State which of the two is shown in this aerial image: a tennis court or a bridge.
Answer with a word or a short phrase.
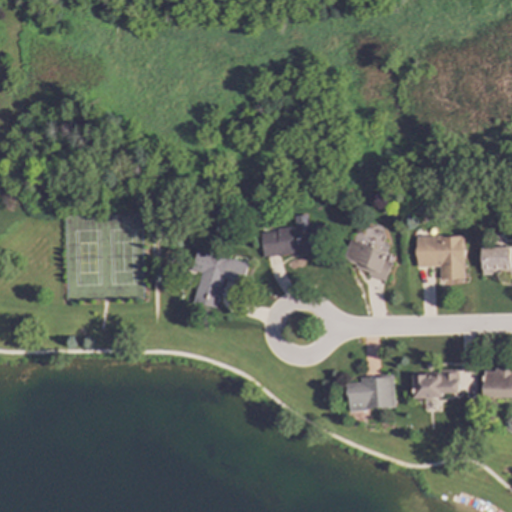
tennis court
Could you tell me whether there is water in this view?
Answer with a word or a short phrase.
Yes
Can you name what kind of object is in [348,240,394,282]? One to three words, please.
house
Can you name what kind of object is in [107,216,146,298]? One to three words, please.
tennis court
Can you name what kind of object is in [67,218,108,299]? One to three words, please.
tennis court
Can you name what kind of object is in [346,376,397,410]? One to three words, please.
house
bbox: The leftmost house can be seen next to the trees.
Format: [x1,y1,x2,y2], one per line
[194,253,248,311]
